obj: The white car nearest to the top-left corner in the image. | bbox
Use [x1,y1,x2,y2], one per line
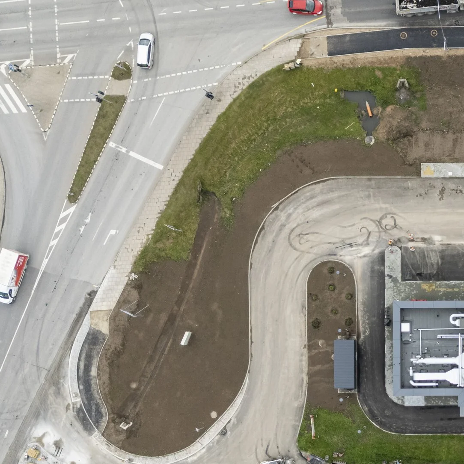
[136,33,158,71]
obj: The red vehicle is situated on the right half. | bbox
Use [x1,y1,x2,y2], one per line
[287,0,325,19]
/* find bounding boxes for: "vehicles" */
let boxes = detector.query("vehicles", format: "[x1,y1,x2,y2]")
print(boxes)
[396,0,464,19]
[260,455,296,464]
[0,247,26,304]
[136,33,158,71]
[287,0,325,19]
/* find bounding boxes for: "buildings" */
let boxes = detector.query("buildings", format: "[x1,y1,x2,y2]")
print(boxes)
[393,300,464,417]
[334,340,357,388]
